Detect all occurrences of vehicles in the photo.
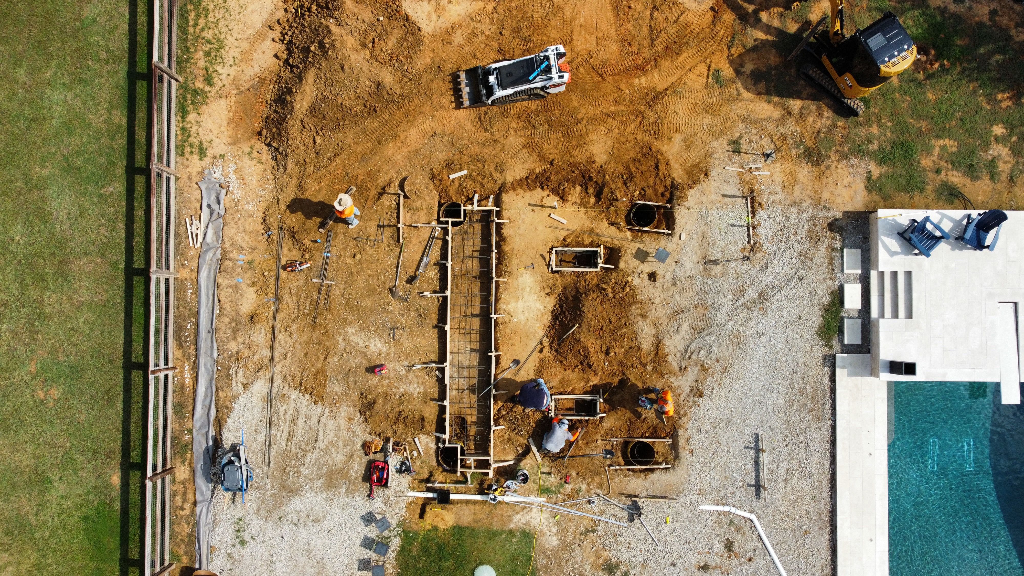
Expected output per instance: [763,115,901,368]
[787,0,921,120]
[457,45,572,109]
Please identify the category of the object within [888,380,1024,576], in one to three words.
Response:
swimming pool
